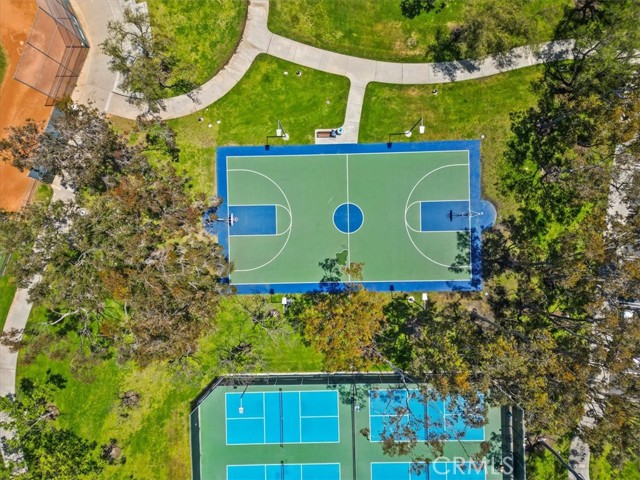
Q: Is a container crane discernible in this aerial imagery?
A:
No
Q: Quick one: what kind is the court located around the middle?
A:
basketball court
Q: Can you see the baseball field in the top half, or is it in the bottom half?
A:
top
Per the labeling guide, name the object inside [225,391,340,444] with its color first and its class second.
blue sports court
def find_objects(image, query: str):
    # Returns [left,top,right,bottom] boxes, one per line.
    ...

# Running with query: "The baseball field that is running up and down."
[0,0,91,213]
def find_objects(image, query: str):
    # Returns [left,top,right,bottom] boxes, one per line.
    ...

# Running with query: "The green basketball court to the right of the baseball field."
[202,141,498,295]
